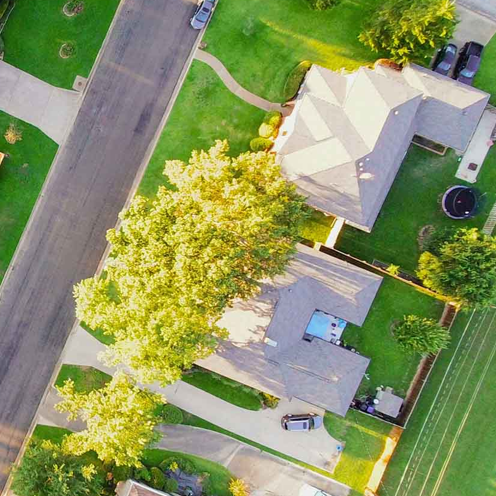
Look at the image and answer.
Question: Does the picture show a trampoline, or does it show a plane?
trampoline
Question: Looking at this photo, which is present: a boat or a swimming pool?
swimming pool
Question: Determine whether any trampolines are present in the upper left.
No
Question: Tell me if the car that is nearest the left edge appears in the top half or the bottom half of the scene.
top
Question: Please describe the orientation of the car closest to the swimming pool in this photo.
horizontally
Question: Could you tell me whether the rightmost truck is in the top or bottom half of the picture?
top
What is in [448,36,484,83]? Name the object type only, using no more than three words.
truck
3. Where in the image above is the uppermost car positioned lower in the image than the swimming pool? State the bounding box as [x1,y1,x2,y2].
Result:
[281,413,324,433]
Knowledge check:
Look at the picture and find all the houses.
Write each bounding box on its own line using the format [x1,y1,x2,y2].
[271,63,490,233]
[118,477,168,496]
[195,232,383,417]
